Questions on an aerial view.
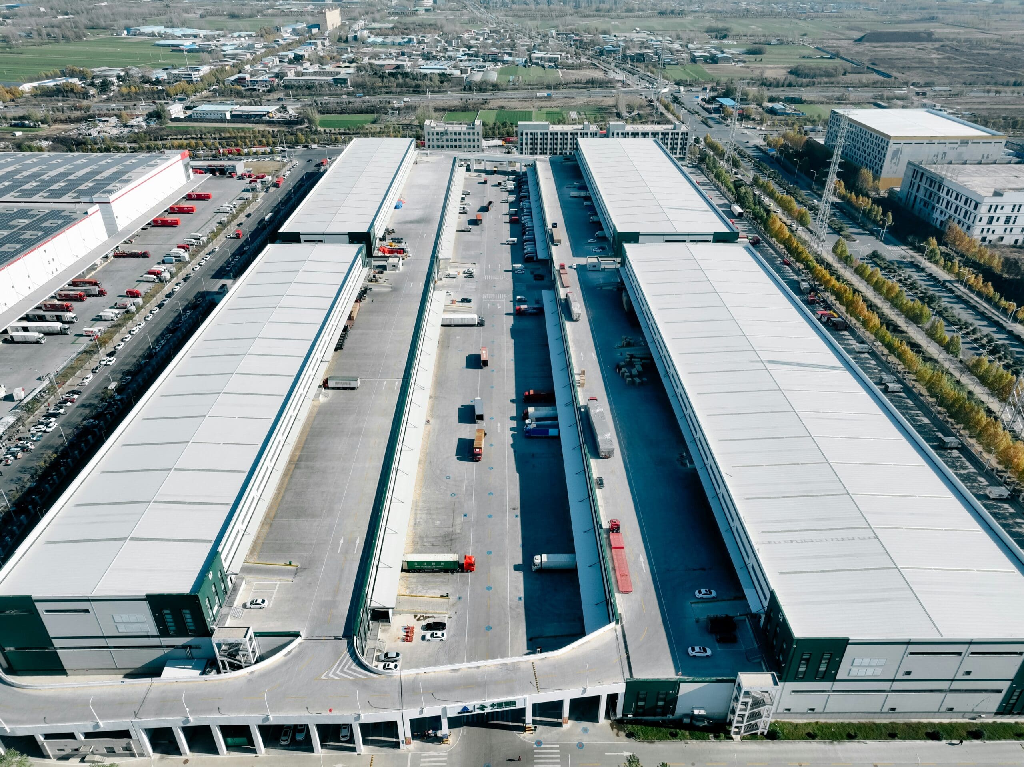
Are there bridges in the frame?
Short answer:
Yes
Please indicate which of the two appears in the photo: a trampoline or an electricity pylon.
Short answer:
electricity pylon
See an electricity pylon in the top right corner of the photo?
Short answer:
Yes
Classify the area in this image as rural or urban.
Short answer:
urban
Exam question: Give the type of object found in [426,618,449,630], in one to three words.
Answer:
vehicle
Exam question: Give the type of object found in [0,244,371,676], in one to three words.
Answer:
warehouse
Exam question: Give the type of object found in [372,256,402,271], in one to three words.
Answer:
shed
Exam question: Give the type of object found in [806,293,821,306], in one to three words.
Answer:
vehicle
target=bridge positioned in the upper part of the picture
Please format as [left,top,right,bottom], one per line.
[418,149,537,176]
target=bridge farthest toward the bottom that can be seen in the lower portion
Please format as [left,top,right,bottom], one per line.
[0,619,630,767]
